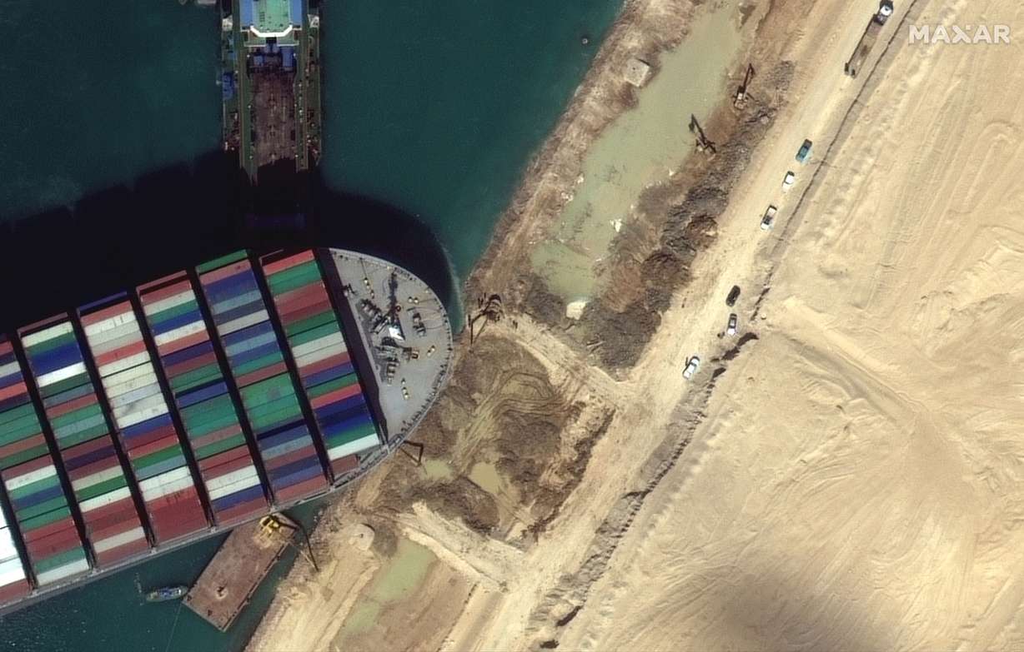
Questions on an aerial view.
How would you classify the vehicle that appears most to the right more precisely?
truck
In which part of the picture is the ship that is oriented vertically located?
top left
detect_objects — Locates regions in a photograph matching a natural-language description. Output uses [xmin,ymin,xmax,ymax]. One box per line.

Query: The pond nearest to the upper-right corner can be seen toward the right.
[530,0,750,302]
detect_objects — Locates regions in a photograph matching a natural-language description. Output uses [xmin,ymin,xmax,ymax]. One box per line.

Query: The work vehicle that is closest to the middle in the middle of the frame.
[469,290,508,346]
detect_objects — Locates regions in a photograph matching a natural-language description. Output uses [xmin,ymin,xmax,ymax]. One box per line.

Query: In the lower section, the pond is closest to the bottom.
[334,537,436,652]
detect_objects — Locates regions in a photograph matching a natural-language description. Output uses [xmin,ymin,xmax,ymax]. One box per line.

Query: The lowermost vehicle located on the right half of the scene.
[684,356,699,378]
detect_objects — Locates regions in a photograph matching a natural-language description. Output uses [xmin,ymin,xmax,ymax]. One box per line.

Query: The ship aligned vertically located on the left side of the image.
[217,0,321,243]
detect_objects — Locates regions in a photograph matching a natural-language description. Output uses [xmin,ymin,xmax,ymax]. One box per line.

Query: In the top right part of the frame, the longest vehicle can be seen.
[845,3,893,77]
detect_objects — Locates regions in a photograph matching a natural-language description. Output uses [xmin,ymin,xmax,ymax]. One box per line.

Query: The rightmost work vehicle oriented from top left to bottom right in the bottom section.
[393,441,424,468]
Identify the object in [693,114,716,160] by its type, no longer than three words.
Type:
work vehicle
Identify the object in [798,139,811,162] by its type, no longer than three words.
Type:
vehicle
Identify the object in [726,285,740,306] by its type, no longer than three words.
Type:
car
